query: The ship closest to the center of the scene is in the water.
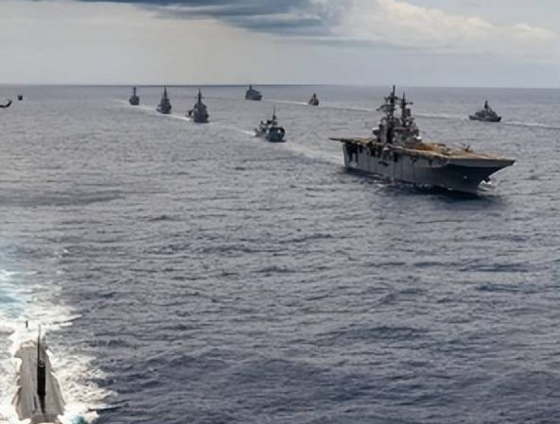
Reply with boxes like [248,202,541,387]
[260,105,287,143]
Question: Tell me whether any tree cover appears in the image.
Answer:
No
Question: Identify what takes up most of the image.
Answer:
water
